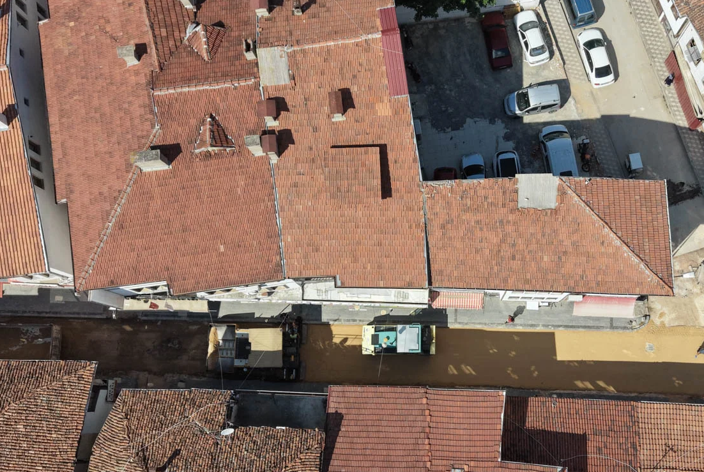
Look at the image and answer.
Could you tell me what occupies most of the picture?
buildings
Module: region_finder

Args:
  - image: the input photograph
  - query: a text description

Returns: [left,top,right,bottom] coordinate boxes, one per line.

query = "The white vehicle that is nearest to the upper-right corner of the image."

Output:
[577,28,615,90]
